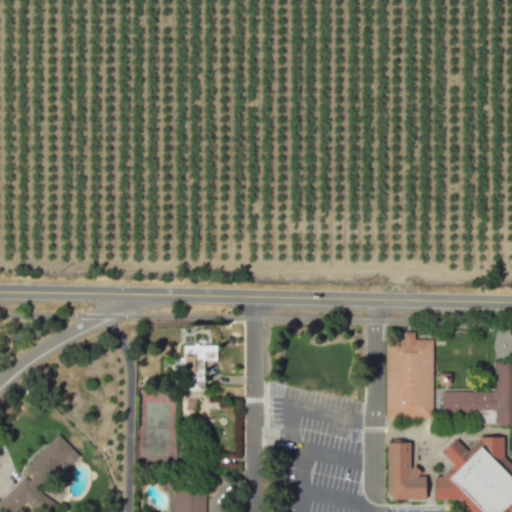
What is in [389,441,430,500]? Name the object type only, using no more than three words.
building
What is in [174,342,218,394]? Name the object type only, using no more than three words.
house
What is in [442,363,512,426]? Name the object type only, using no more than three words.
building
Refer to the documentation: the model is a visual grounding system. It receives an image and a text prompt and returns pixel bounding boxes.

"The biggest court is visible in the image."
[139,388,177,462]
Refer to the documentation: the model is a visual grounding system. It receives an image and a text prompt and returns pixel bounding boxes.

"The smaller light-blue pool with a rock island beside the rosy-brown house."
[142,484,169,512]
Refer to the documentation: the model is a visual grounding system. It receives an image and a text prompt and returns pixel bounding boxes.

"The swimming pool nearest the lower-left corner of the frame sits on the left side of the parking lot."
[50,456,98,504]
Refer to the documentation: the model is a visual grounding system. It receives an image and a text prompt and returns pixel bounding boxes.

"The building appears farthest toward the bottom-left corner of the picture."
[0,436,80,512]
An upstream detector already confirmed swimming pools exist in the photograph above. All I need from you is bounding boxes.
[50,456,98,504]
[142,484,169,512]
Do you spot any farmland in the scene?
Yes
